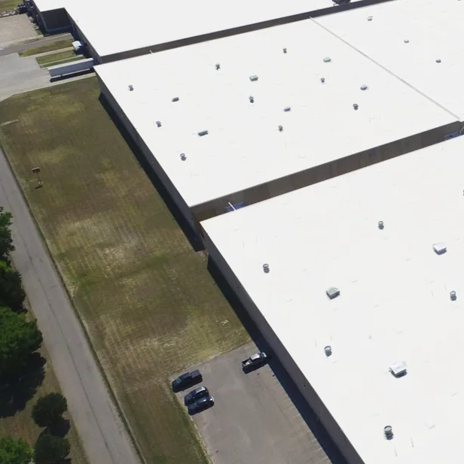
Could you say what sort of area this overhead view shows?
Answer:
industrial area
